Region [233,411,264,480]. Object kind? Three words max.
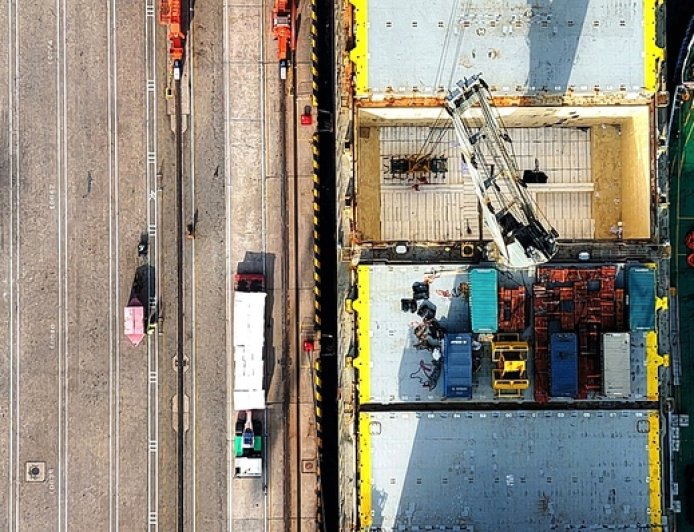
truck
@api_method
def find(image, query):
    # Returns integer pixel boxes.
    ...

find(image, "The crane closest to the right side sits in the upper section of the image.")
[413,62,566,274]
